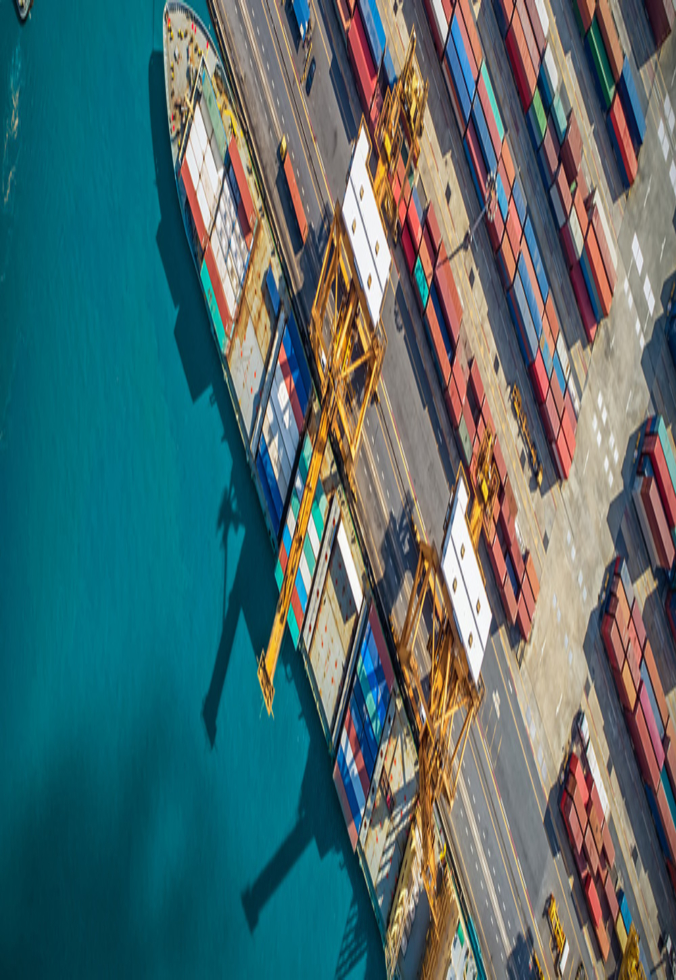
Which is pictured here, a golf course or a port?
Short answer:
port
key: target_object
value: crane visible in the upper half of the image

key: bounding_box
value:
[252,14,426,717]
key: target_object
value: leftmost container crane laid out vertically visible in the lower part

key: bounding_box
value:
[391,421,509,979]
